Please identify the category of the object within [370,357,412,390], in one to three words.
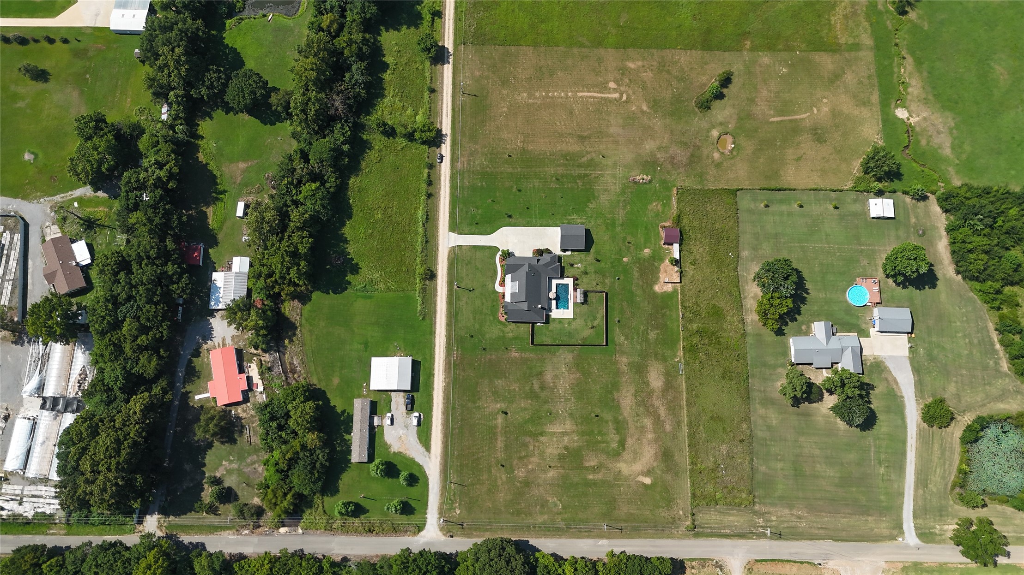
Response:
building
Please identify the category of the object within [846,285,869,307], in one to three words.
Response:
swimming pool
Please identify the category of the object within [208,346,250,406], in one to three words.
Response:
house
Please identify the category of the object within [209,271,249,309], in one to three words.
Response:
barn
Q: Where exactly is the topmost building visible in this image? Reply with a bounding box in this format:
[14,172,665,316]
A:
[109,0,152,35]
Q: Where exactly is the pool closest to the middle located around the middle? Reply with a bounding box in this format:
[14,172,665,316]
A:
[556,284,569,310]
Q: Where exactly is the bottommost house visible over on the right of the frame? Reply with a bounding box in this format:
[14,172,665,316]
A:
[790,321,862,373]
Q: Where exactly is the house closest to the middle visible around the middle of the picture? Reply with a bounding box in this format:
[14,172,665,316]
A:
[504,253,560,322]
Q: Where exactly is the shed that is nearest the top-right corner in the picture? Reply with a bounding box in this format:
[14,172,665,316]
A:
[866,198,895,219]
